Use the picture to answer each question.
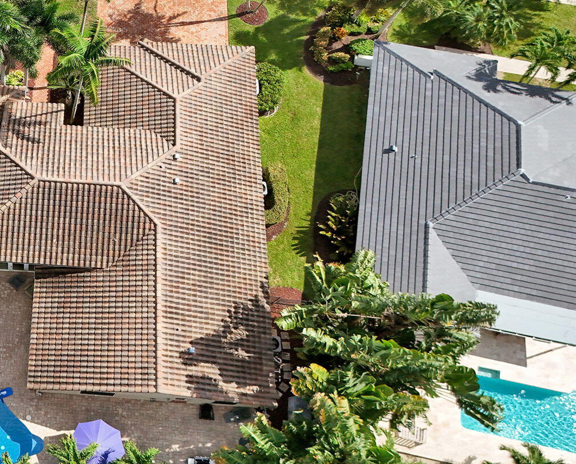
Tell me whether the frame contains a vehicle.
No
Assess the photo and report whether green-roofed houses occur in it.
No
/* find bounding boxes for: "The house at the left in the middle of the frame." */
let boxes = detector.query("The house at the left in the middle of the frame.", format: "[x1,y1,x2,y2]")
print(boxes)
[0,39,279,404]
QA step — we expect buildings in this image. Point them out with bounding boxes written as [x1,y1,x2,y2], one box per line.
[0,39,279,404]
[352,40,576,351]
